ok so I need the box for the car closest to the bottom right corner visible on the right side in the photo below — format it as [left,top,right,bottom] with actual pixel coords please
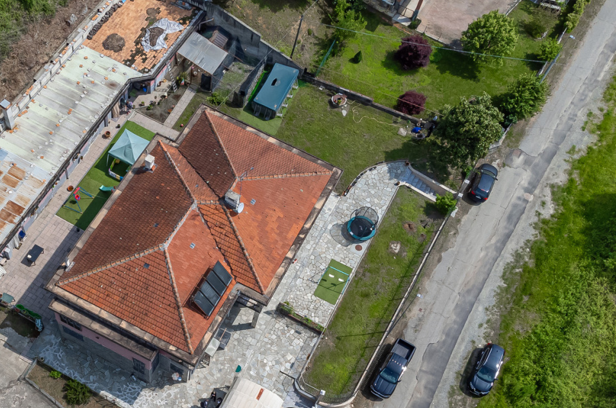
[468,343,507,397]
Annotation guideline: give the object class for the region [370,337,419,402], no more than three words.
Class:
truck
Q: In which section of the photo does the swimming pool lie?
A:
top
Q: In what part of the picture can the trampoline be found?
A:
center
